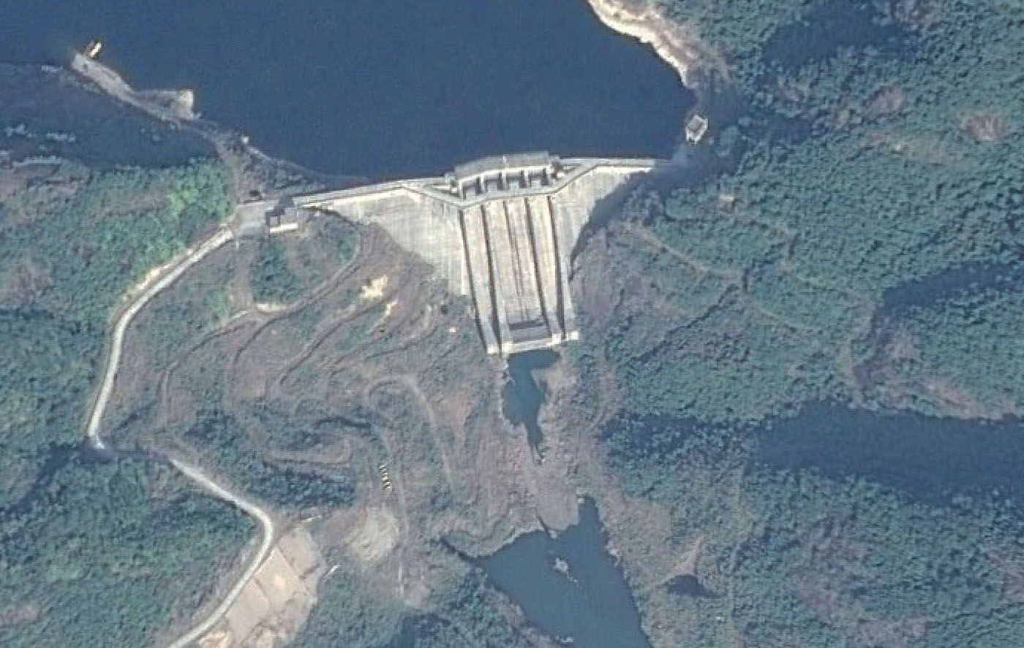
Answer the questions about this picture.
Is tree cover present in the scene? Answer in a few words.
Yes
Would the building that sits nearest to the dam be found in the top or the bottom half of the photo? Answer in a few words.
top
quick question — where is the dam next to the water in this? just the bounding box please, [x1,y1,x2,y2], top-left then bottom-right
[292,151,669,355]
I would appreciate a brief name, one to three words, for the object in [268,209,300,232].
building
